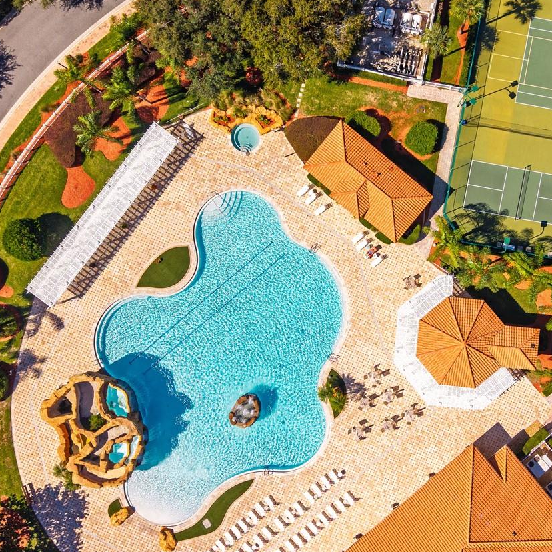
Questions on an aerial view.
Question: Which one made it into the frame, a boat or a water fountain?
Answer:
water fountain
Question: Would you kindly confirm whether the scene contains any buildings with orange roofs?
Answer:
Yes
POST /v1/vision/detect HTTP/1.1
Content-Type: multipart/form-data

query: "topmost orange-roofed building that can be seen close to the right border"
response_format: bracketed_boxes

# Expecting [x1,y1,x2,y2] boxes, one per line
[416,296,541,388]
